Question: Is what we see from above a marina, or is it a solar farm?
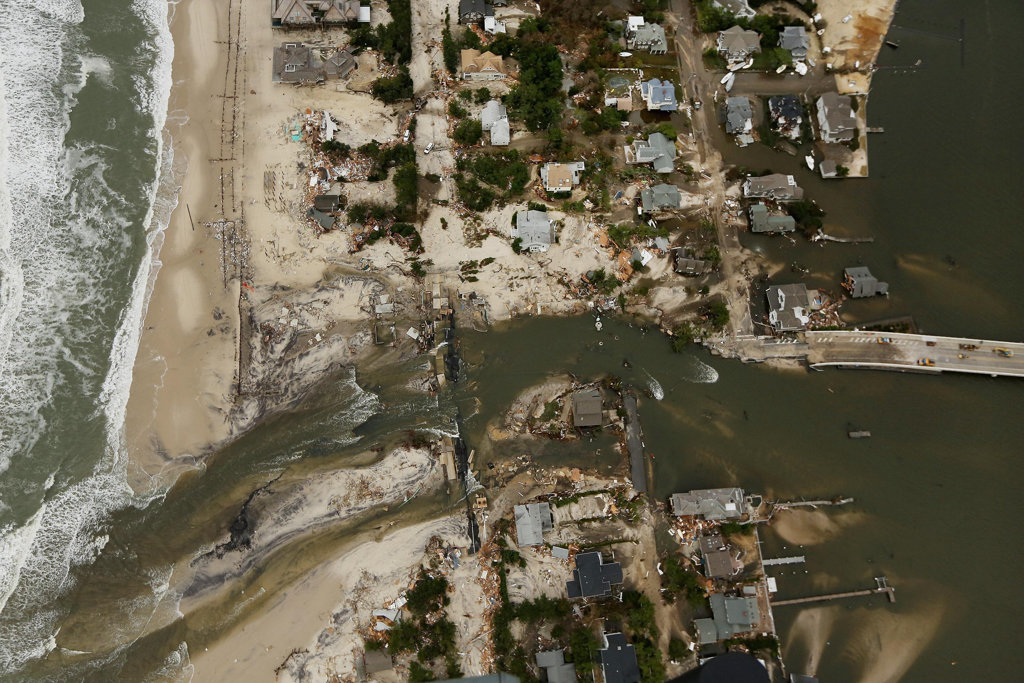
marina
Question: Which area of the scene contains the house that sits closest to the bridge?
right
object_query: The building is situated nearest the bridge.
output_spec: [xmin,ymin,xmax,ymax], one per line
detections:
[762,283,821,333]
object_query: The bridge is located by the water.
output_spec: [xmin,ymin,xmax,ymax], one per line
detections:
[805,330,1024,378]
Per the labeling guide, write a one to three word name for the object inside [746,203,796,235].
building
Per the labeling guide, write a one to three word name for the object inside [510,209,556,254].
house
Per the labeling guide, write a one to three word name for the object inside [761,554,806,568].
pier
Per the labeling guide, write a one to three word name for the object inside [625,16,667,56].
house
